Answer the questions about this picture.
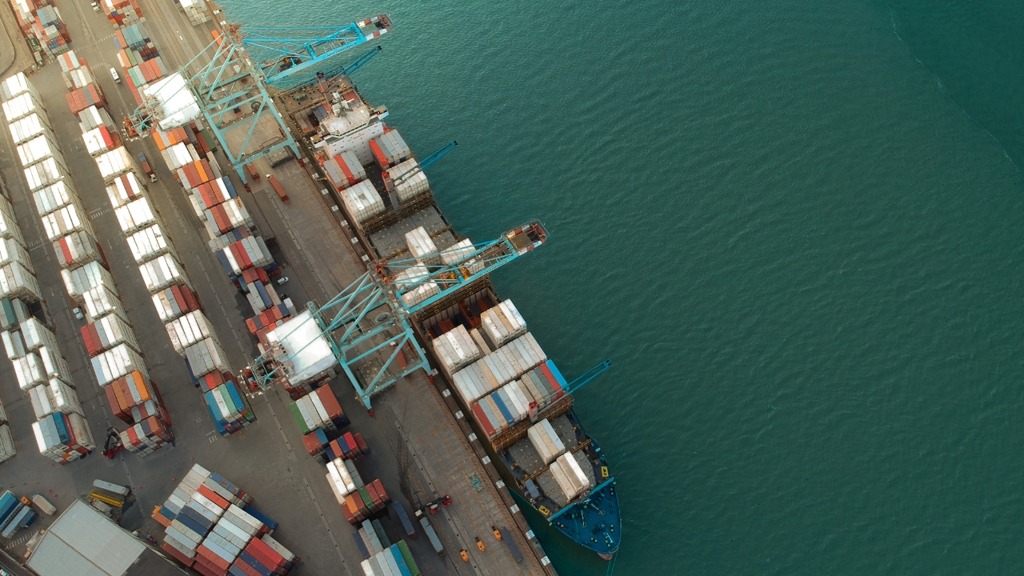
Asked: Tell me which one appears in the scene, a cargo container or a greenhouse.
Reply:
cargo container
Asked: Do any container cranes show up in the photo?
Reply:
Yes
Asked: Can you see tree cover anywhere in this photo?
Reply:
No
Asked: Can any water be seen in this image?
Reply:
Yes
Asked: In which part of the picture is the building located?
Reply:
bottom left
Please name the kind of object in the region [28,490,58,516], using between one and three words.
truck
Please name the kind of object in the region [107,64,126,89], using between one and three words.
vehicle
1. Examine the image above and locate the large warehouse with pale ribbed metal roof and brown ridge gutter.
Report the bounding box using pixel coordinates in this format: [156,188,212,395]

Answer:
[24,498,195,576]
